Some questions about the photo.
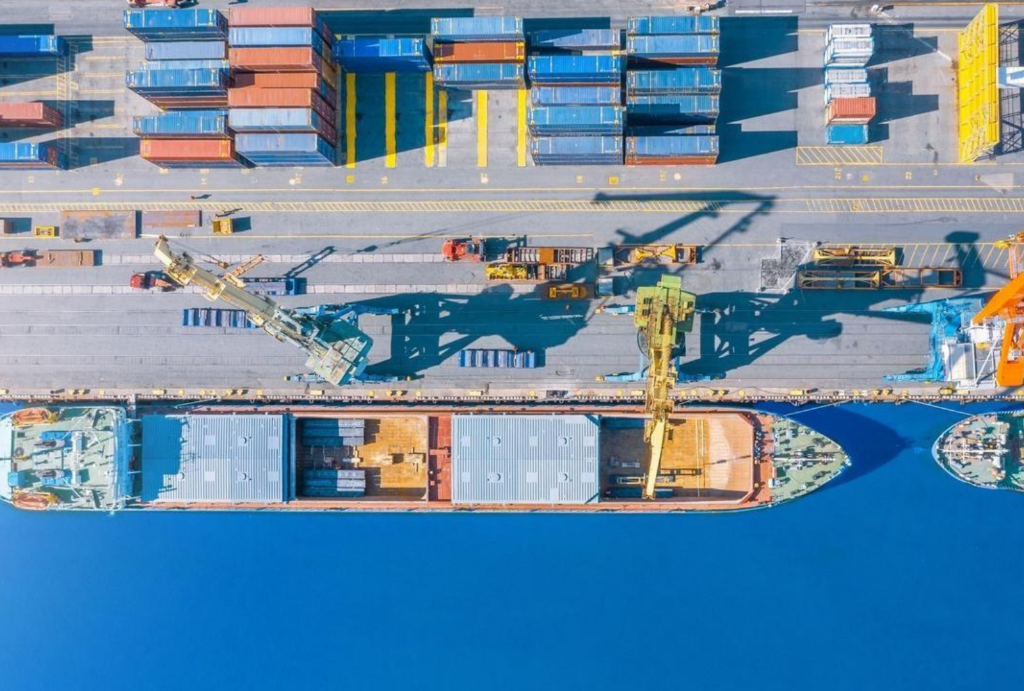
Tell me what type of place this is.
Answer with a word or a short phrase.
port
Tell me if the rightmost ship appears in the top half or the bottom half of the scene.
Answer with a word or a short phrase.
bottom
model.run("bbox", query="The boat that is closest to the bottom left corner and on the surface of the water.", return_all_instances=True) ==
[13,494,54,510]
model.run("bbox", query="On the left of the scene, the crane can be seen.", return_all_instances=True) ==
[143,227,414,390]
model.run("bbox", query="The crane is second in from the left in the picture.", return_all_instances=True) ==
[600,273,725,502]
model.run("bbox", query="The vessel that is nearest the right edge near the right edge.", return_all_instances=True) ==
[929,410,1024,491]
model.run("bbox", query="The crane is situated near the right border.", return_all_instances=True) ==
[884,230,1024,387]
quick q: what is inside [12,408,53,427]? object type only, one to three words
boat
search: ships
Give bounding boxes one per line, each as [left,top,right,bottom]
[929,410,1024,491]
[0,406,851,512]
